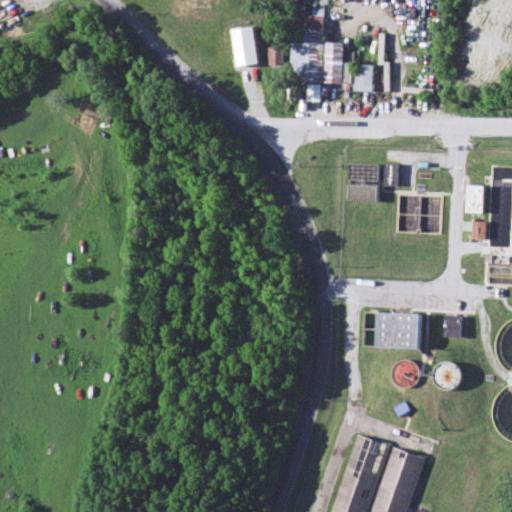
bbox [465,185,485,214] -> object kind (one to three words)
building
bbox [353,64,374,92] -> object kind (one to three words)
building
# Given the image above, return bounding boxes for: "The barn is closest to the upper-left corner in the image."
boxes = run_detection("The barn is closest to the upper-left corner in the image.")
[230,26,258,69]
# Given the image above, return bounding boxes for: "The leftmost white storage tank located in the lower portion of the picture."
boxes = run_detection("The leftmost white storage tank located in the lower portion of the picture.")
[433,362,463,390]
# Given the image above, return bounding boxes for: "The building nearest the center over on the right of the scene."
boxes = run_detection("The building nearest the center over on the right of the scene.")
[348,164,380,202]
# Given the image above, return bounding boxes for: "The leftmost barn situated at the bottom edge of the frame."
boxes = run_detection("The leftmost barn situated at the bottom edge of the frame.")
[334,434,388,512]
